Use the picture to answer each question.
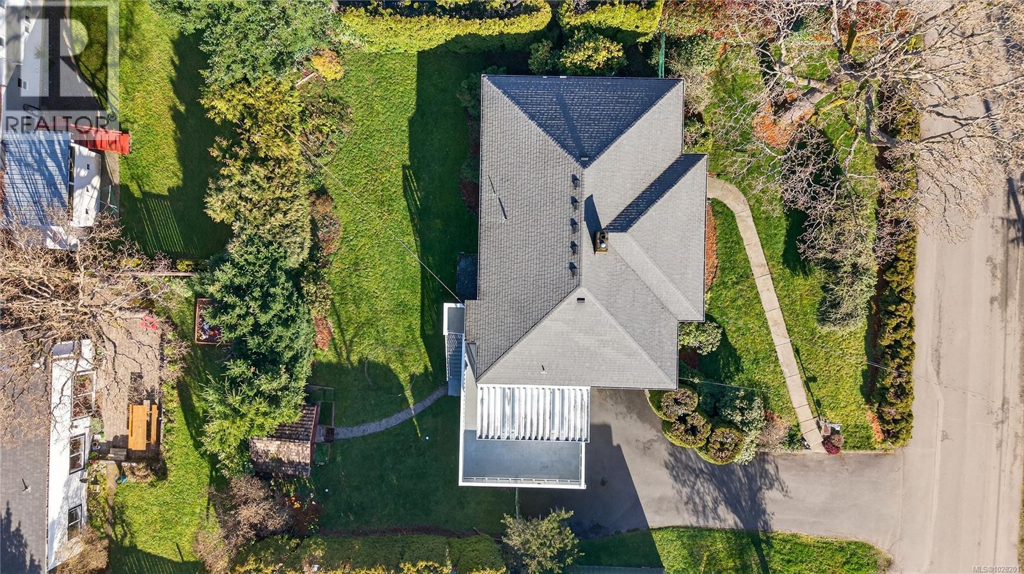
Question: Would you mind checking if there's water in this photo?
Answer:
No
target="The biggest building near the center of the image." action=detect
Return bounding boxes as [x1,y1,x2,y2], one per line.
[440,72,710,488]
